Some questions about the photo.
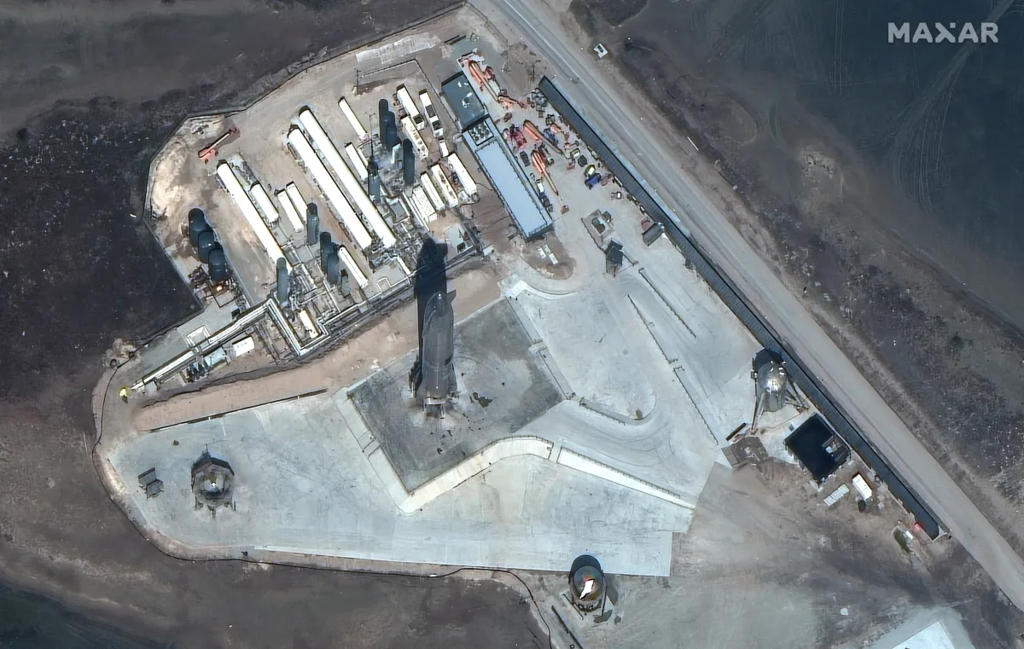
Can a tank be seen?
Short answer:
Yes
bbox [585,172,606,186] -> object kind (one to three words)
work vehicle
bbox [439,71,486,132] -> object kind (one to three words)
building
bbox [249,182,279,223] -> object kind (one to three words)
storage tank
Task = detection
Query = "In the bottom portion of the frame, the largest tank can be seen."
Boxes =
[569,570,607,613]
